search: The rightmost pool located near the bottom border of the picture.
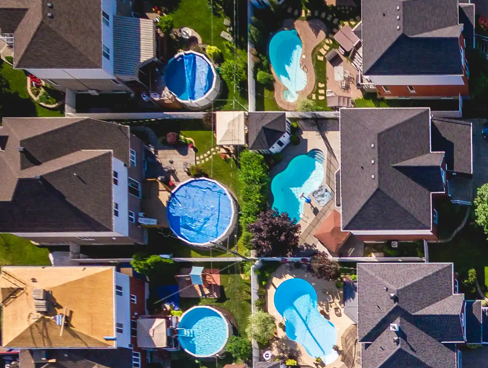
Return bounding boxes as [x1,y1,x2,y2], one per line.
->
[271,275,341,361]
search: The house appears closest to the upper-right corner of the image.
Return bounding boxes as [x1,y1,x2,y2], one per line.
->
[361,0,477,97]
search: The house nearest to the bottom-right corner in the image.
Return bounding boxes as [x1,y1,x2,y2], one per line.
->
[356,262,483,368]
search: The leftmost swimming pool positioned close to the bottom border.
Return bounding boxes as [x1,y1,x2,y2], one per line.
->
[175,306,233,356]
